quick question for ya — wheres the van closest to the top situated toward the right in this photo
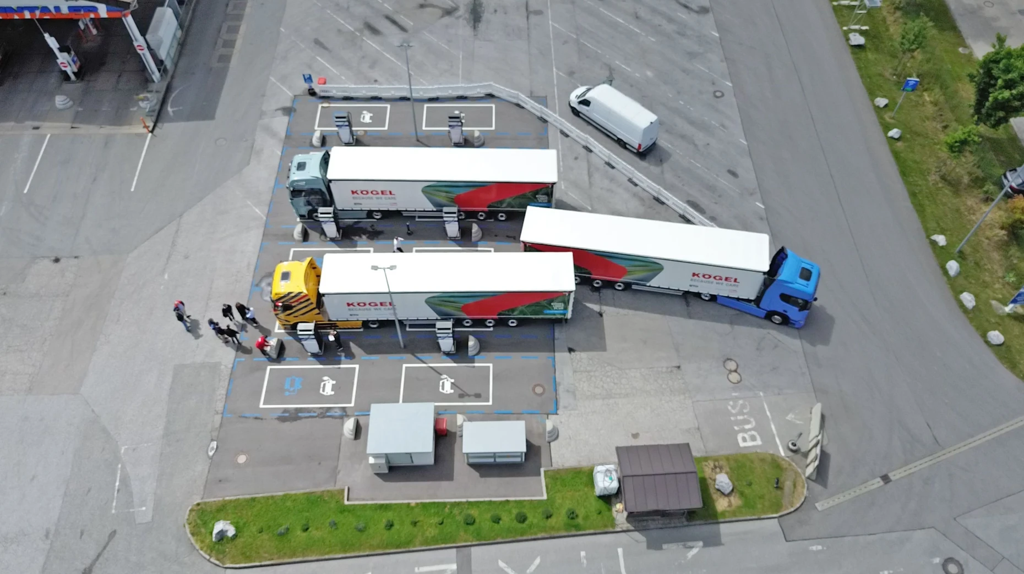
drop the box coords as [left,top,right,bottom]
[567,76,663,155]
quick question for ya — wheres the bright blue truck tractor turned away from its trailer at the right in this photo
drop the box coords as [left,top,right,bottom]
[702,252,820,328]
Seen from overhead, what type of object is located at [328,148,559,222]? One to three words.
trailer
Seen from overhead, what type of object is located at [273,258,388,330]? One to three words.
truck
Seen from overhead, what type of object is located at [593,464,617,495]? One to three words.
water tank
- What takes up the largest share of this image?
paved ground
